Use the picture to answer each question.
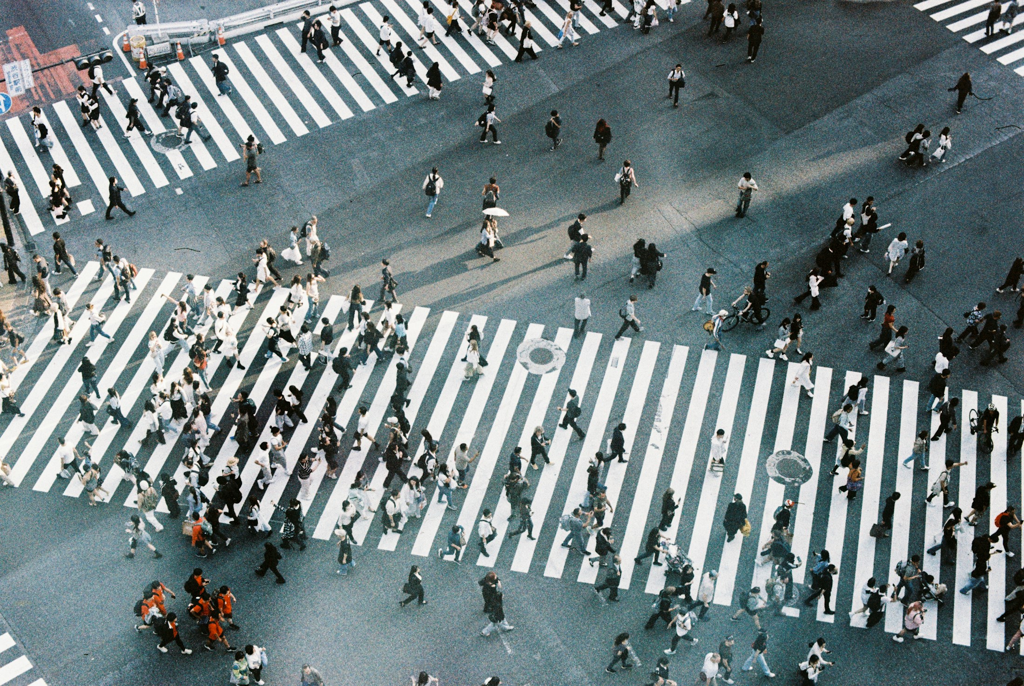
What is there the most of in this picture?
paved ground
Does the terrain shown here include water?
No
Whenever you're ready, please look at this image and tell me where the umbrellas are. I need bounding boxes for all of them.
[480,207,512,221]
